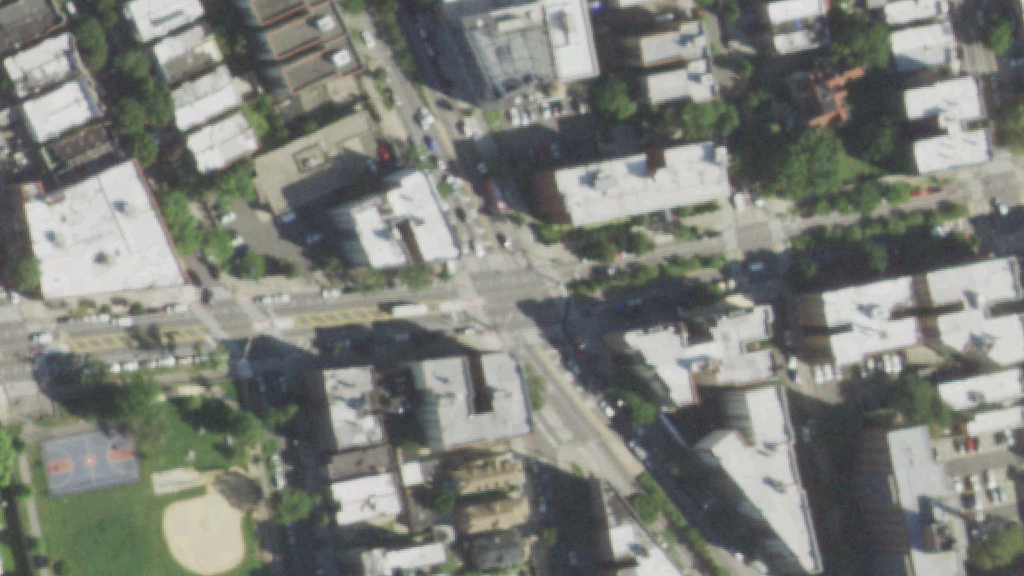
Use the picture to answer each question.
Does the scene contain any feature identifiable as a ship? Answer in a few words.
No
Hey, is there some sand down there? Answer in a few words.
No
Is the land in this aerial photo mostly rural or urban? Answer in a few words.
urban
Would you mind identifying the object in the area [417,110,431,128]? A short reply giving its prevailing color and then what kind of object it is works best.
white vehicle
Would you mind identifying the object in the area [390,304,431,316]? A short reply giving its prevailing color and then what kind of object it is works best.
white vehicle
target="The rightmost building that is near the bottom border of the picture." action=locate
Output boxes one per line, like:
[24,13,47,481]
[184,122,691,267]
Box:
[851,427,973,576]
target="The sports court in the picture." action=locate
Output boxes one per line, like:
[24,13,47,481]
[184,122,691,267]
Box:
[42,432,139,497]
